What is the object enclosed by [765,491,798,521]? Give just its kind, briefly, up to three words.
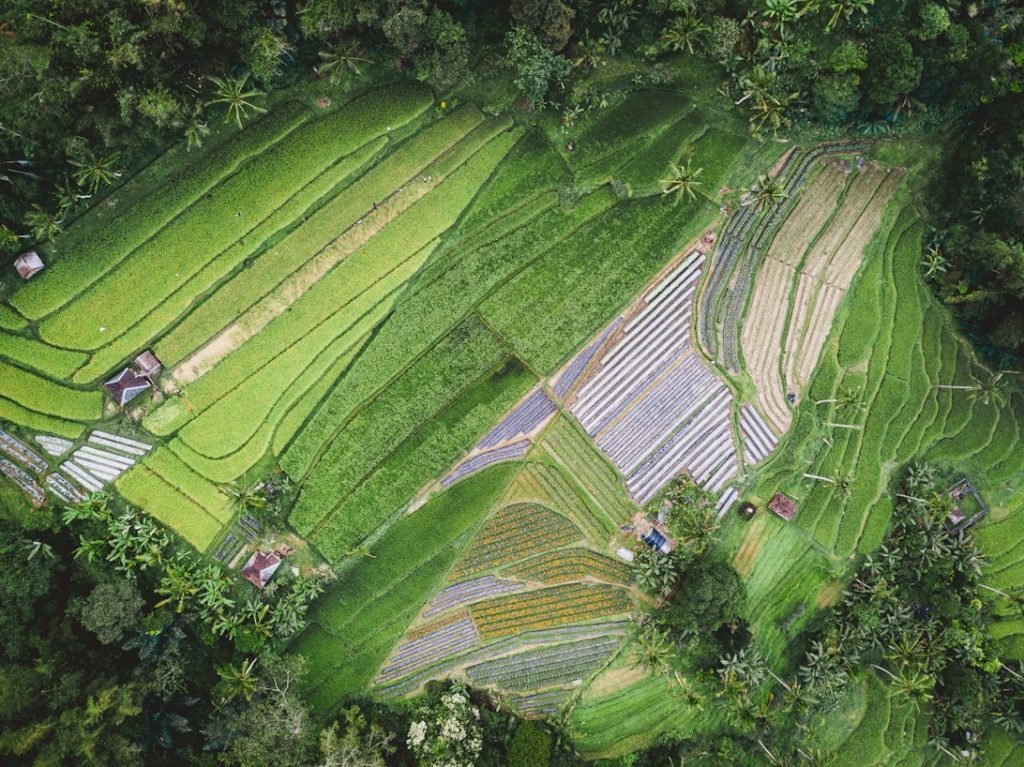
shed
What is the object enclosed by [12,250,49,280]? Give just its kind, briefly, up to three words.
shed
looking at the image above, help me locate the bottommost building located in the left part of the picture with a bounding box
[240,550,283,590]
